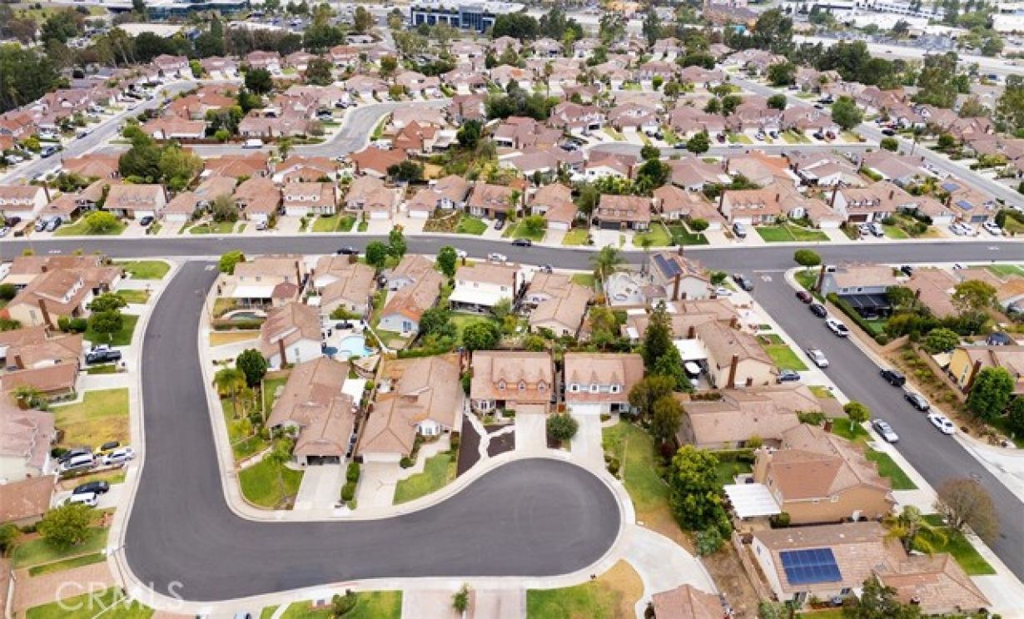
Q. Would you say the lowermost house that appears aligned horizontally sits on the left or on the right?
right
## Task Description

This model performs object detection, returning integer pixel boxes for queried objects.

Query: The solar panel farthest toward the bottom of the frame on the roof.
[782,552,838,583]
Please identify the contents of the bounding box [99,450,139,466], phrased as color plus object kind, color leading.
white car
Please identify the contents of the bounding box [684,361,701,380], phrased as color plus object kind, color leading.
white car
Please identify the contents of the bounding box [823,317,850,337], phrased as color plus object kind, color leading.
white vehicle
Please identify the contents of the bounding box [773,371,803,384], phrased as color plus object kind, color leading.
gray vehicle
